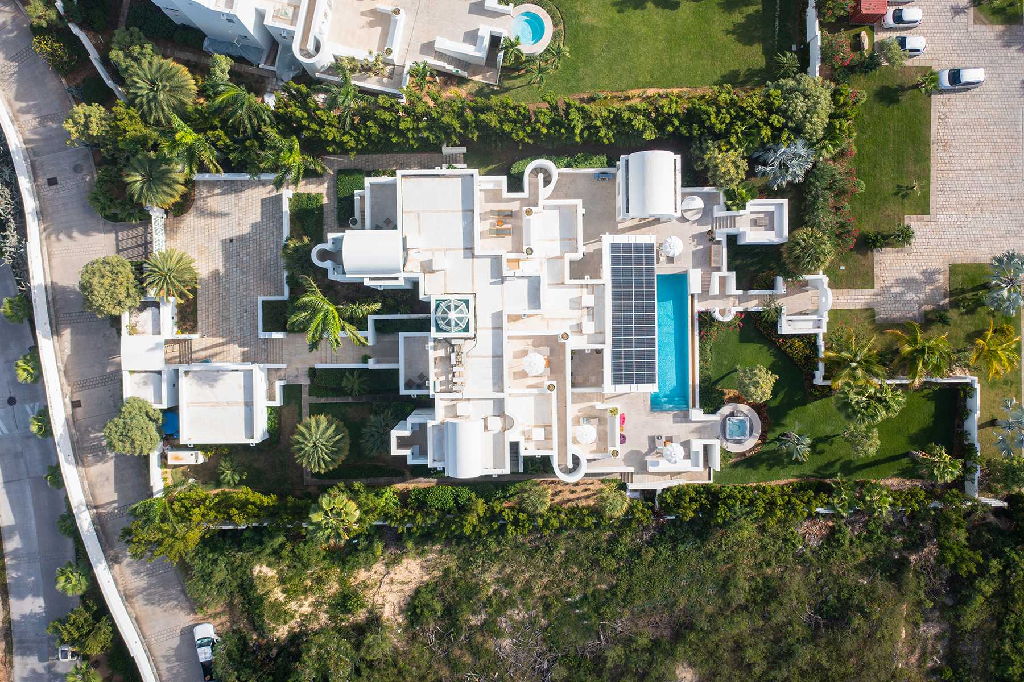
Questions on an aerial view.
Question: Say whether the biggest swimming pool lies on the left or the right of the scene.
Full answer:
The biggest swimming pool sits on the right side.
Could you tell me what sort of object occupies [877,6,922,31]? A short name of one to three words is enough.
car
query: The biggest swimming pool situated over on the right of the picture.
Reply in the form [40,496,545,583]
[650,269,701,410]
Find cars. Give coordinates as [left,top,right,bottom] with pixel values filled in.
[881,35,924,59]
[933,67,984,92]
[192,623,223,682]
[877,6,922,31]
[886,0,921,7]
